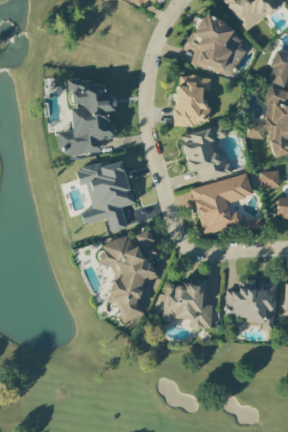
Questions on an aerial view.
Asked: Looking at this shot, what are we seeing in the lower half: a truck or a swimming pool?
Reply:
swimming pool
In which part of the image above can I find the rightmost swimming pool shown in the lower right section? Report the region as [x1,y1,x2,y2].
[238,324,270,342]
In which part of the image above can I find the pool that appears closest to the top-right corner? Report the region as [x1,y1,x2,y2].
[267,2,288,33]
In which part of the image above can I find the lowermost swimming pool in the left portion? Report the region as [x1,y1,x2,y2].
[76,245,119,318]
